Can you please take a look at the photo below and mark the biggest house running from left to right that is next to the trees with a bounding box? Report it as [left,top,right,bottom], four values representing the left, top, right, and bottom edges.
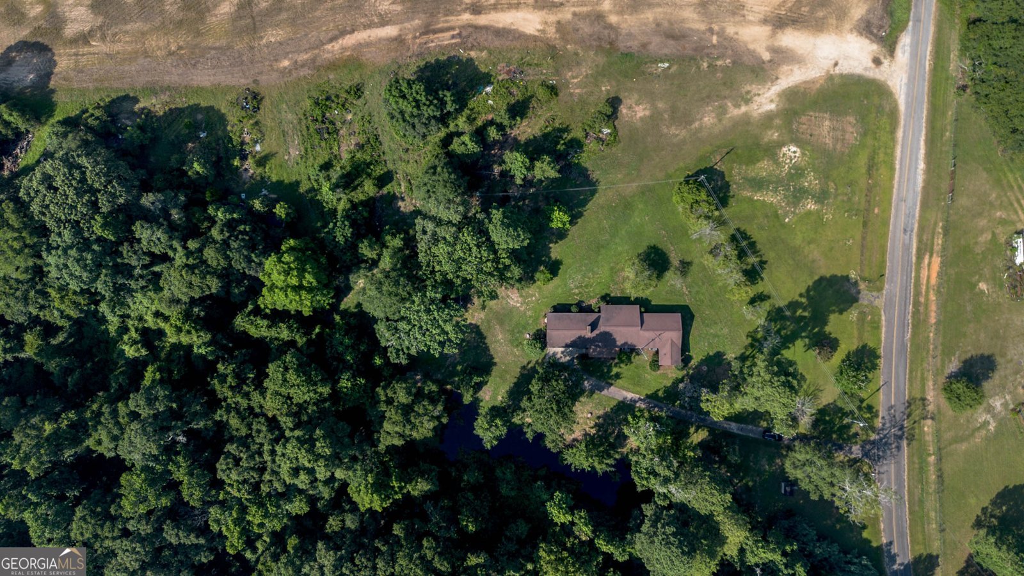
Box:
[547,305,683,365]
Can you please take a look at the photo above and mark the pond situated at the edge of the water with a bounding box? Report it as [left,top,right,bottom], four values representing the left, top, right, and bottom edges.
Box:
[441,391,636,510]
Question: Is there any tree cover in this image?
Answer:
Yes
